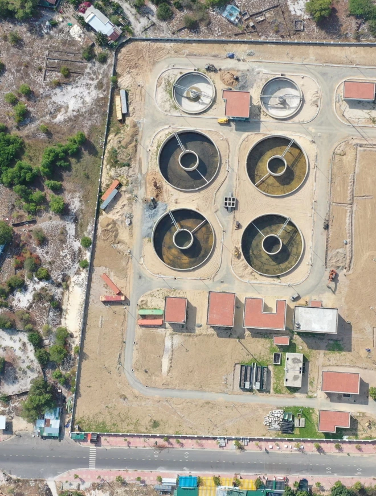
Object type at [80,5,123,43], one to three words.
house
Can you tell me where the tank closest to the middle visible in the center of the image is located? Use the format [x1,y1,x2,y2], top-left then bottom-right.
[152,208,215,271]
